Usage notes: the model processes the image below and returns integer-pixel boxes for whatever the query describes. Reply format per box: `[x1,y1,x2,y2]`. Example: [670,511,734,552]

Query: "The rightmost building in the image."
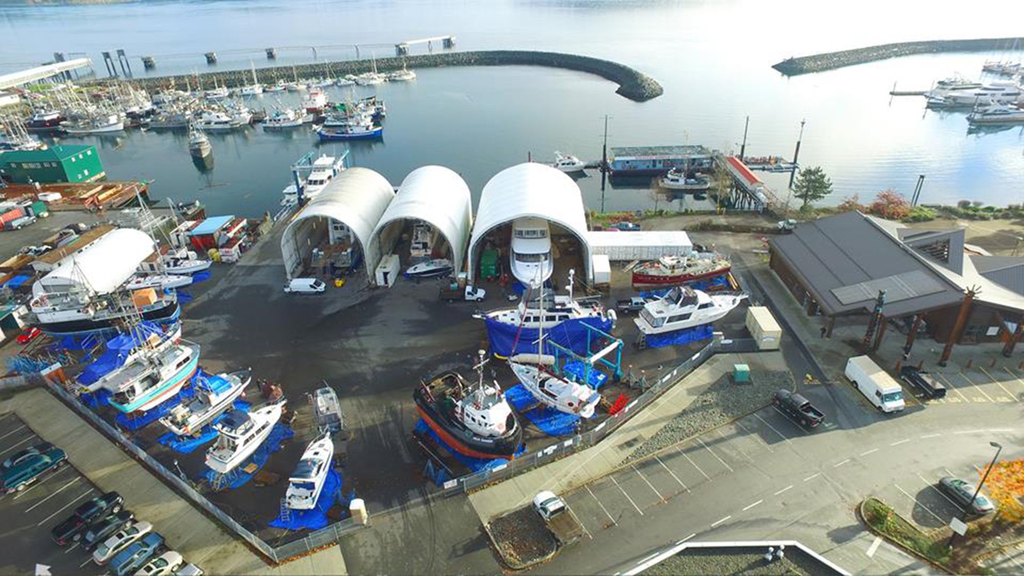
[769,209,1024,354]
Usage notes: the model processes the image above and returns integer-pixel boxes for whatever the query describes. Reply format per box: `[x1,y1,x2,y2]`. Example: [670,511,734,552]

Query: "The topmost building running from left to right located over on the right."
[606,142,719,177]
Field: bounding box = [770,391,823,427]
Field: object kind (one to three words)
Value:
truck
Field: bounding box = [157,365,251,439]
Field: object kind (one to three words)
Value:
boat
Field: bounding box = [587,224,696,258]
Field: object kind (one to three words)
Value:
shed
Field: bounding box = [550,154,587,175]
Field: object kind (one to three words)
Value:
boat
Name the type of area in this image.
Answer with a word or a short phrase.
port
